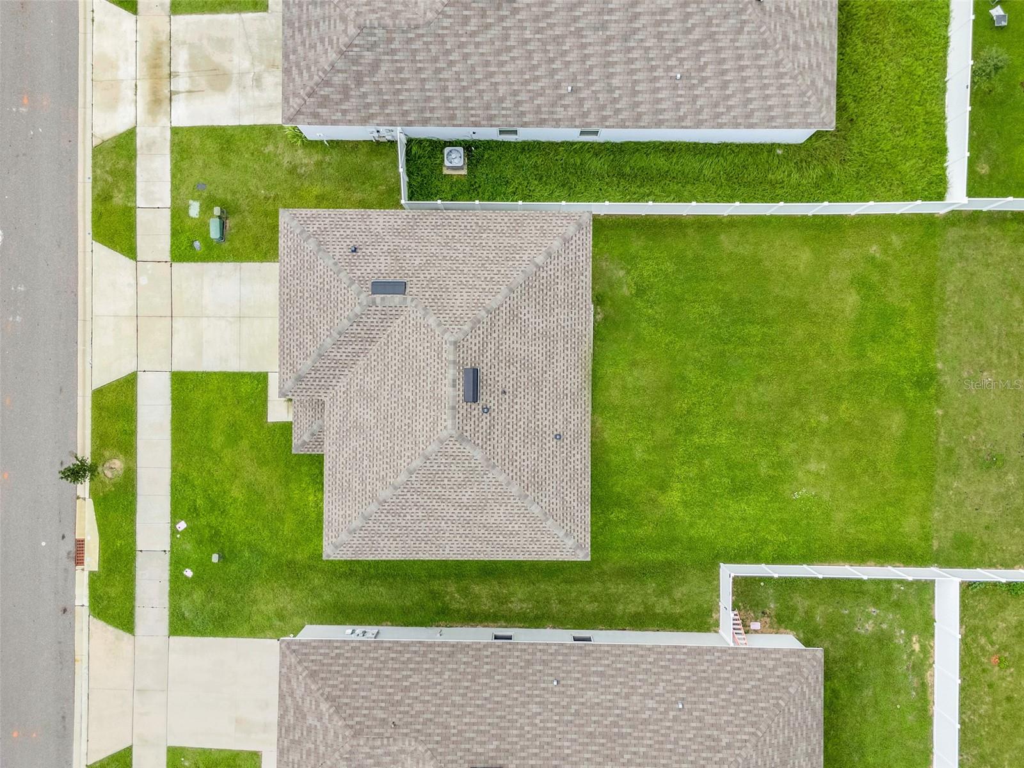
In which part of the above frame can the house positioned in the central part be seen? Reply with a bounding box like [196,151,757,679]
[279,209,593,561]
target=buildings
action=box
[277,625,824,768]
[282,0,838,143]
[279,209,593,561]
